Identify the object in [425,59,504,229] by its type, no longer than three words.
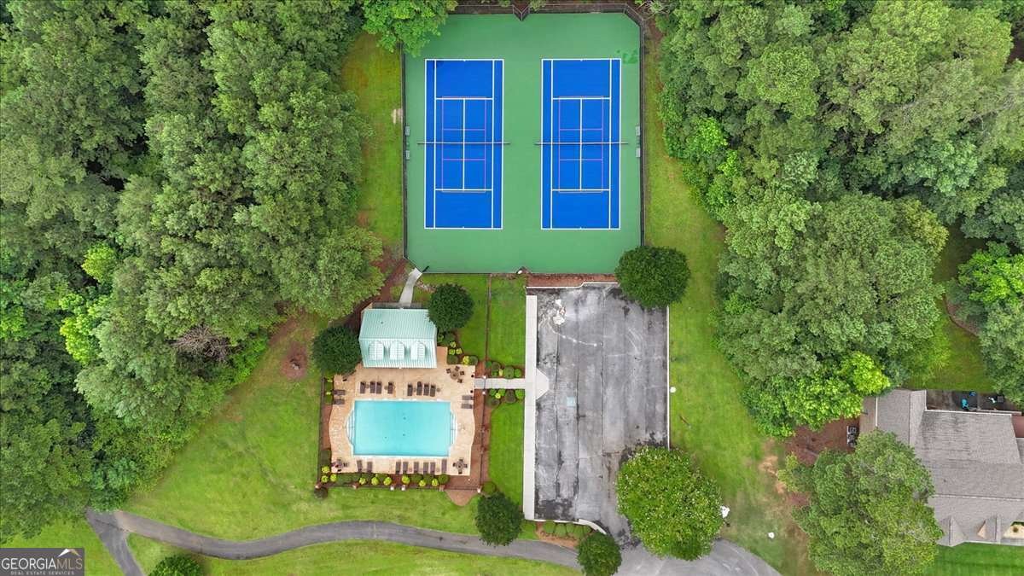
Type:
tennis court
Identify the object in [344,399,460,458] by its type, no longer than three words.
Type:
swimming pool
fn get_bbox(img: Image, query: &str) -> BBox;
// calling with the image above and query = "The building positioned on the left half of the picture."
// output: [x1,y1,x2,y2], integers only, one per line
[356,308,439,368]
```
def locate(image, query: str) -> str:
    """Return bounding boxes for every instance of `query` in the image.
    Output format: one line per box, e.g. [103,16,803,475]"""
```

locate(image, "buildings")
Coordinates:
[356,308,439,368]
[863,388,1024,553]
